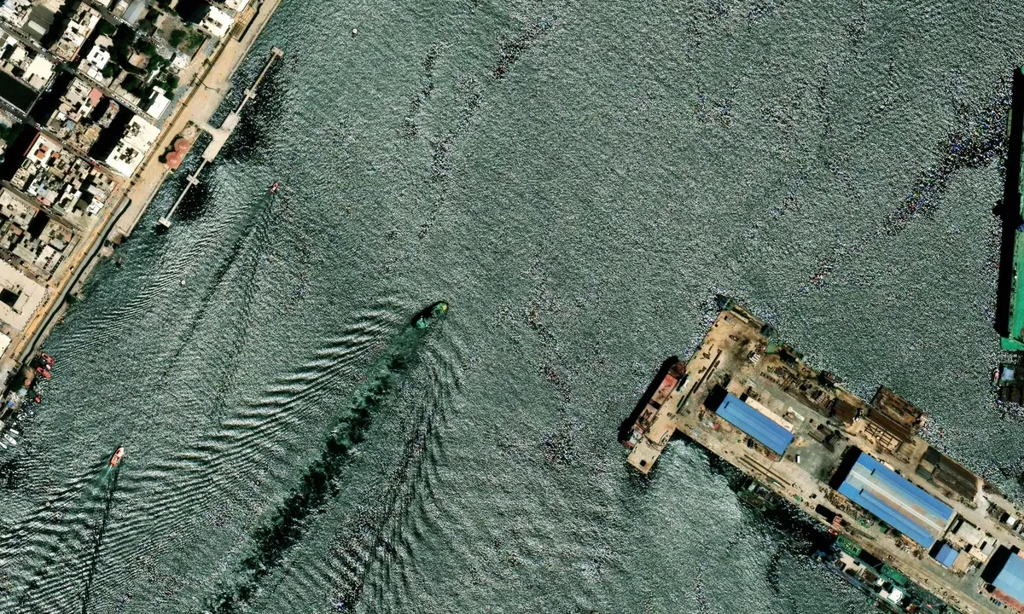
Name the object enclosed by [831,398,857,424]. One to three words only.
shed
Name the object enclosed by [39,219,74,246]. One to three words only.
building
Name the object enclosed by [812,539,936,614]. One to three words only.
ship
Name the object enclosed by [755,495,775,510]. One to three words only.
boat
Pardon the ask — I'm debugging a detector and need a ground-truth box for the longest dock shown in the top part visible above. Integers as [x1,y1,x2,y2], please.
[159,47,284,227]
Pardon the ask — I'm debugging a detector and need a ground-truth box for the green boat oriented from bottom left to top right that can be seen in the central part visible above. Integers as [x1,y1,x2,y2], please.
[415,302,448,330]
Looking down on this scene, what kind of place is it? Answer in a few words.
port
